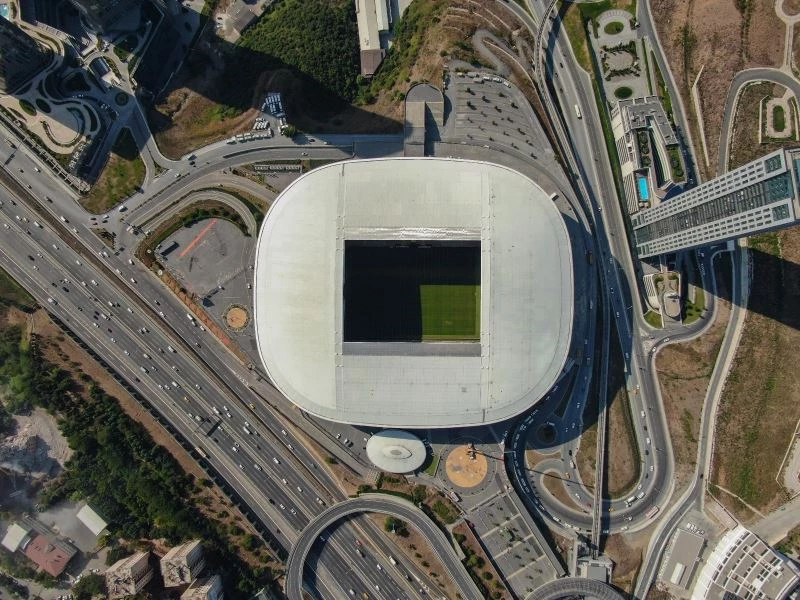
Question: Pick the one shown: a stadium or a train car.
stadium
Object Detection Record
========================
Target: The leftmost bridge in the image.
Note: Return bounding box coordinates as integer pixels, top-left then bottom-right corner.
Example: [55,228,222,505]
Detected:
[283,495,487,600]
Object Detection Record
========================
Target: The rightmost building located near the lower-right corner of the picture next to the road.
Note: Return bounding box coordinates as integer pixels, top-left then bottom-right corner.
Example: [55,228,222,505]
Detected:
[684,522,800,600]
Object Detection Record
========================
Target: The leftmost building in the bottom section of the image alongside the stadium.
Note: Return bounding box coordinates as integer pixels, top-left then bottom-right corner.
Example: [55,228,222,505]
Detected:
[366,429,427,473]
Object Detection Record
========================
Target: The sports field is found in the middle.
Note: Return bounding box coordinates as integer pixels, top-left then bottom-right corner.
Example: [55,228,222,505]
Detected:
[345,251,474,336]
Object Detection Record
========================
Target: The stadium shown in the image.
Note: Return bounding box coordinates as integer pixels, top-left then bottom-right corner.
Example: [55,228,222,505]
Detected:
[254,157,574,429]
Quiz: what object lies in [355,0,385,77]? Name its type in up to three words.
shed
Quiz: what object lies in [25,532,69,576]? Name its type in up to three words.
building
